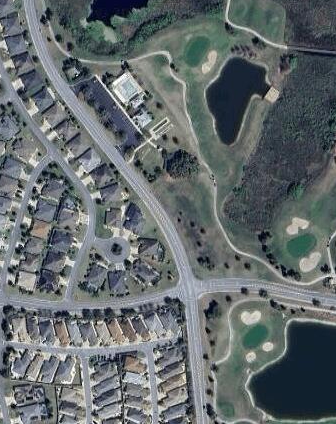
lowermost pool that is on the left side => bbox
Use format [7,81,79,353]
[114,72,145,105]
